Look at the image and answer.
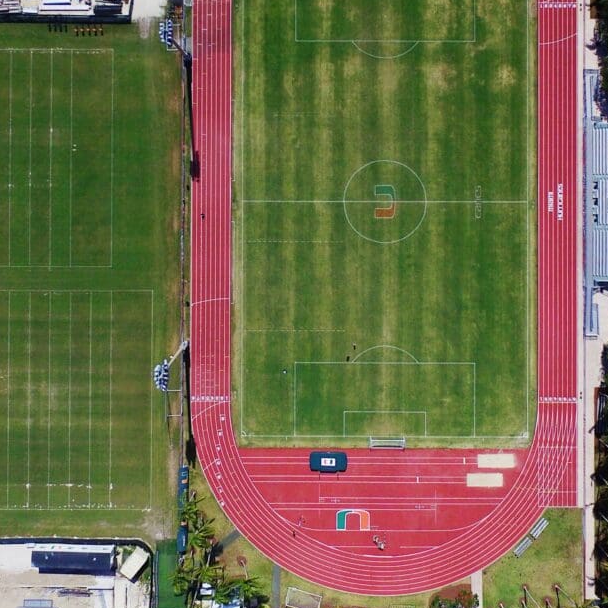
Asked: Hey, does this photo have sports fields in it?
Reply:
Yes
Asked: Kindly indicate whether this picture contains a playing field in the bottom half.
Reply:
Yes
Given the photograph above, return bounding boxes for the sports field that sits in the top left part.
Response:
[0,22,182,278]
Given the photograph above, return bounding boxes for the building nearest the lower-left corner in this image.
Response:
[31,542,117,569]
